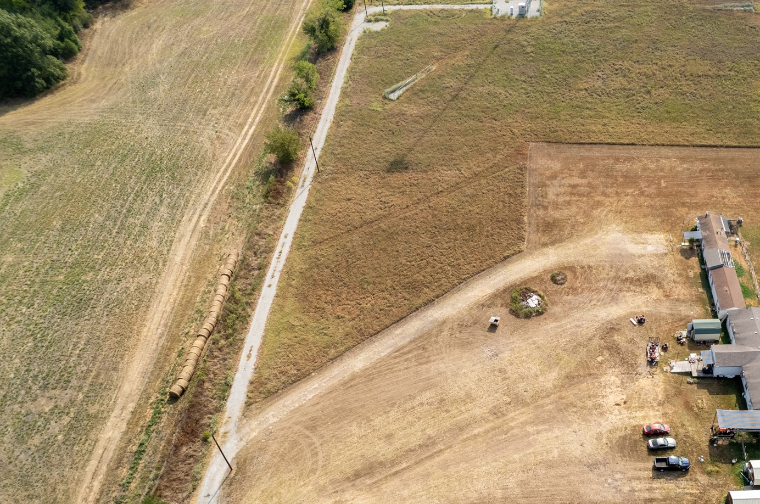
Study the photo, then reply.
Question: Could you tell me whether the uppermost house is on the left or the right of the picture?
right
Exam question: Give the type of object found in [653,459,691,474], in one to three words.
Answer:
vehicle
